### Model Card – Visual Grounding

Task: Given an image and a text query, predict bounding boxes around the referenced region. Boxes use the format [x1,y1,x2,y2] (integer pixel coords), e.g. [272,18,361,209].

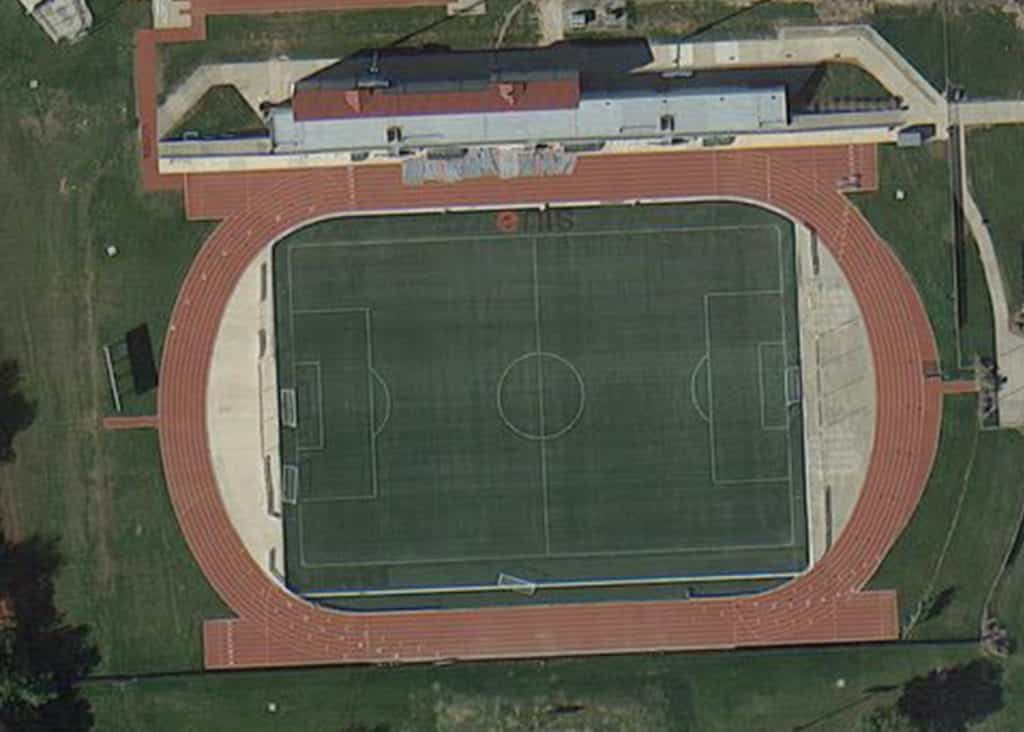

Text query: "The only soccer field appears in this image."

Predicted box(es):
[273,199,812,613]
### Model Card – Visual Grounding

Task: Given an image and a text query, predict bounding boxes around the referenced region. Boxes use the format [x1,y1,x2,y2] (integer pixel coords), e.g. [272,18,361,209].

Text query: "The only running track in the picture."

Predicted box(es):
[158,146,943,669]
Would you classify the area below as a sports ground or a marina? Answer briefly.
sports ground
